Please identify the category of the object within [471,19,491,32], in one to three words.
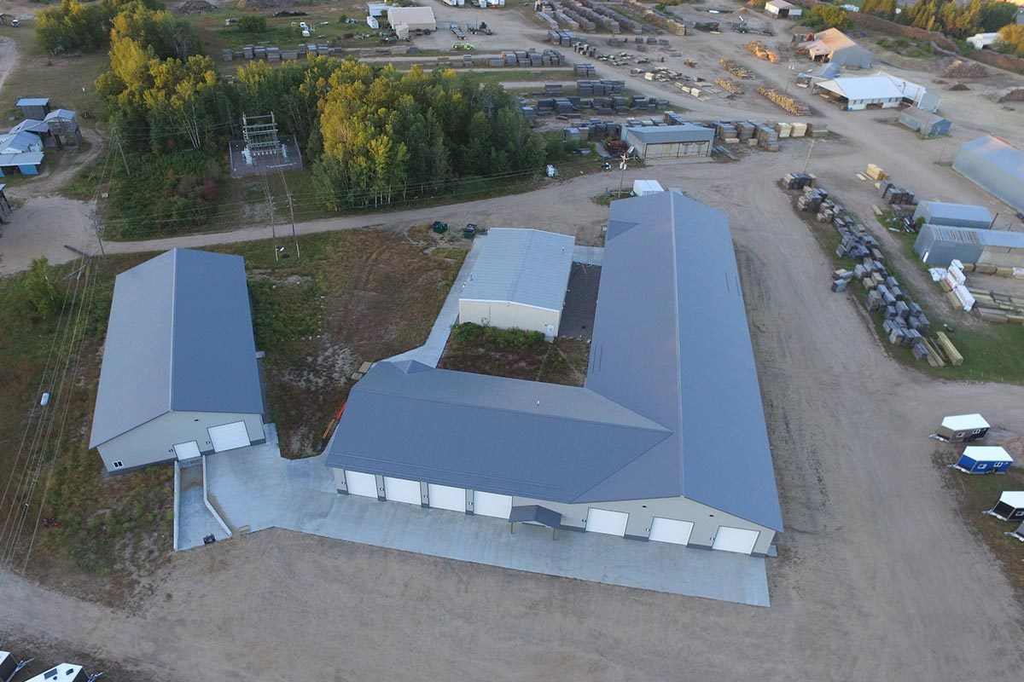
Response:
vehicle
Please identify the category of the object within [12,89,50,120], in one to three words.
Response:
shed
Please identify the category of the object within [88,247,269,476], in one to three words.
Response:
building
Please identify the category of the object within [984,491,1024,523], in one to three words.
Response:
trailer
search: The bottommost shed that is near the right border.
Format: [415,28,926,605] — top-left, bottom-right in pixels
[914,220,1024,273]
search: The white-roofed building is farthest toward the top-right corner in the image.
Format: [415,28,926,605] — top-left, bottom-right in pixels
[967,32,1000,51]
